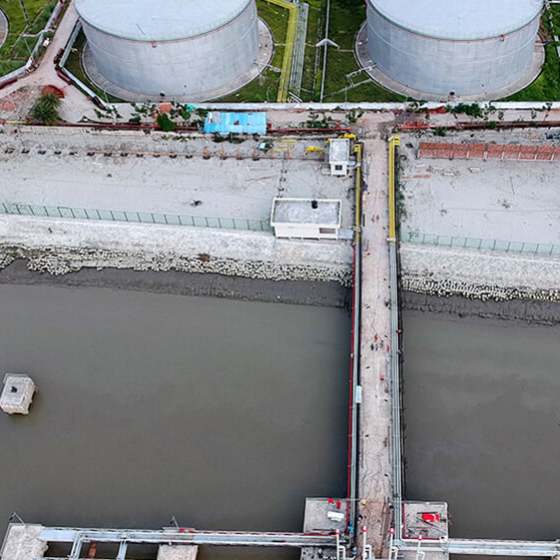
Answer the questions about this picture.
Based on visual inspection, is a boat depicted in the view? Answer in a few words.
No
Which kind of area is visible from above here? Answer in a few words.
industrial area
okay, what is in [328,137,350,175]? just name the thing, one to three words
building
